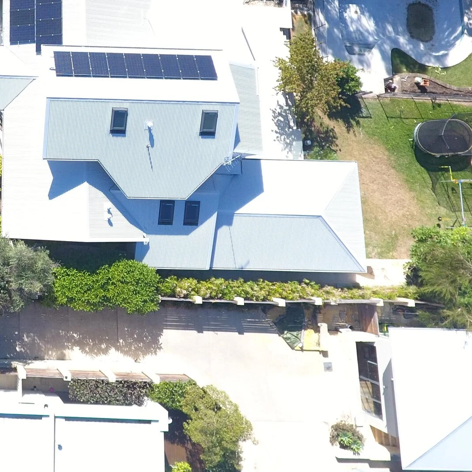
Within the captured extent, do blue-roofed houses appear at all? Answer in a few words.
No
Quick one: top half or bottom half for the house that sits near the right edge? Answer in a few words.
bottom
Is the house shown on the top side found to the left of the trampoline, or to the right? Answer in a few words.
on its left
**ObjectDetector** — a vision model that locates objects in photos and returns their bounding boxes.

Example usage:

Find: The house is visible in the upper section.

[0,0,368,275]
